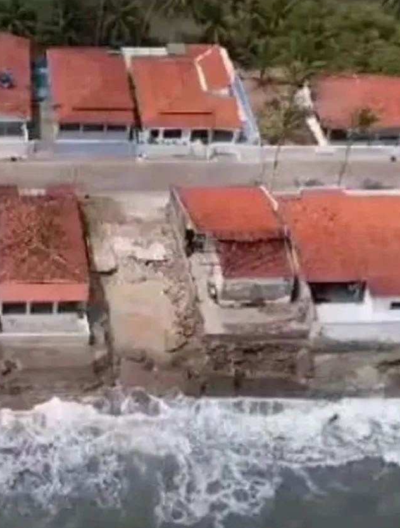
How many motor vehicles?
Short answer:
none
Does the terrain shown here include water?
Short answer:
Yes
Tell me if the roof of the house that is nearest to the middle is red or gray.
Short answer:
red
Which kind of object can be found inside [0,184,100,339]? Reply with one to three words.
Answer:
house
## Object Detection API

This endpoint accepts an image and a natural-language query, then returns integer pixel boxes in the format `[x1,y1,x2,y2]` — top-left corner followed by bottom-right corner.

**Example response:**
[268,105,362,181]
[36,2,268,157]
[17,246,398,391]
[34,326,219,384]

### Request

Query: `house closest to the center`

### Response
[183,186,307,333]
